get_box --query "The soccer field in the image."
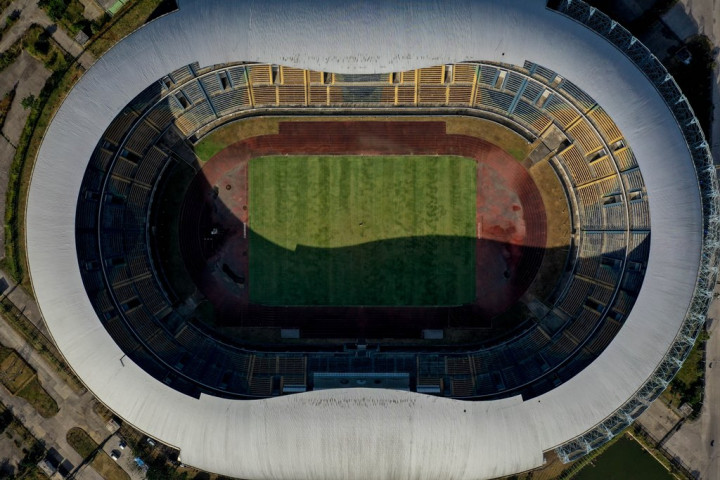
[248,155,476,305]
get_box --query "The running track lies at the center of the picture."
[179,122,546,335]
